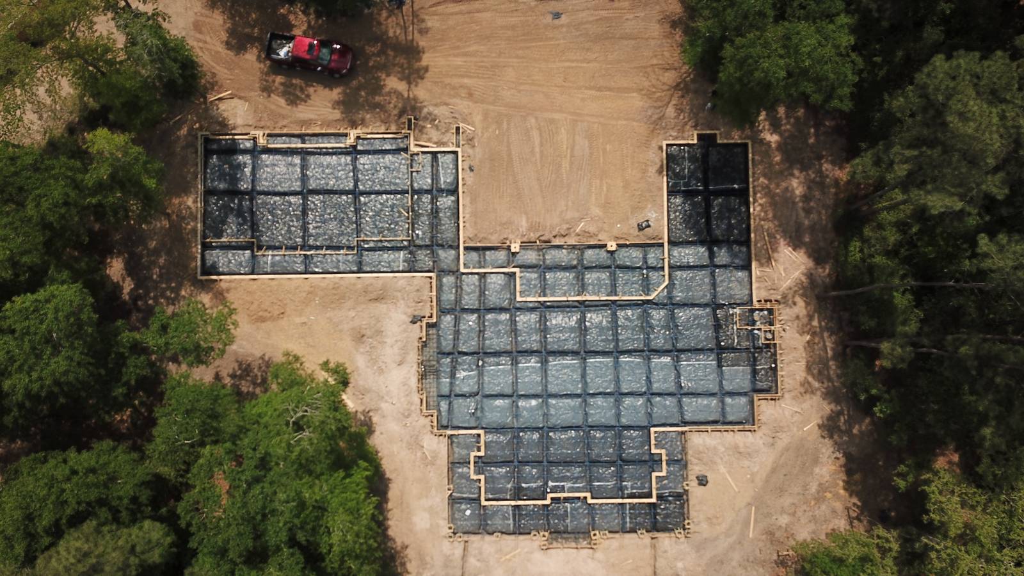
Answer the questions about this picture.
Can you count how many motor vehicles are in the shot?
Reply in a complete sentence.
The picture shows 1 motor vehicle.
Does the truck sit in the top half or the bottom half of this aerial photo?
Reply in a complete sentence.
Seen from above, the truck lies in the top half of the view.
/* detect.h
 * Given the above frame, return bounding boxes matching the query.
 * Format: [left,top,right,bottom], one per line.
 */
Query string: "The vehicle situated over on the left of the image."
[264,29,355,76]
